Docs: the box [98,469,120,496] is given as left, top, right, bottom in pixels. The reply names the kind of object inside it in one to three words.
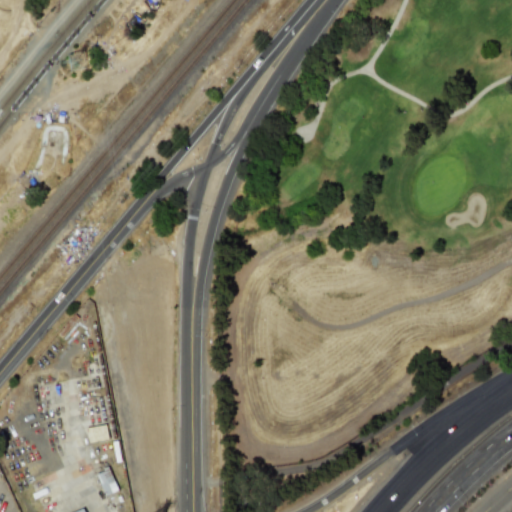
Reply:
shed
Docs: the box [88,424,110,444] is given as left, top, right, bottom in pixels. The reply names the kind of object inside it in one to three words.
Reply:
building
